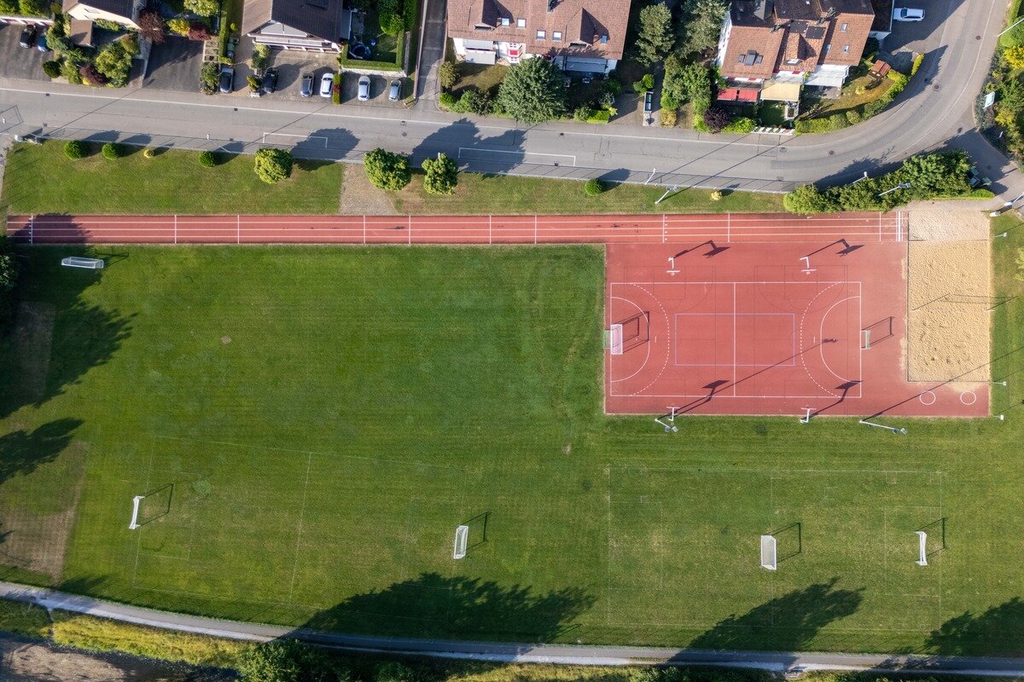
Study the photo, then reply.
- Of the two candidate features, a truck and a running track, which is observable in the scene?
running track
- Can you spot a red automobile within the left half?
No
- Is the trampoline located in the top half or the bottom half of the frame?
top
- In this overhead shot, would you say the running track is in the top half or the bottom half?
top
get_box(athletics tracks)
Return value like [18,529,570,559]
[7,211,908,245]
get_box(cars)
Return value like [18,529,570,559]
[20,25,39,52]
[301,71,315,99]
[358,76,371,102]
[389,79,402,103]
[264,67,280,96]
[894,7,924,23]
[36,31,52,55]
[321,72,335,99]
[219,66,234,94]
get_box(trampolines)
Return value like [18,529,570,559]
[351,42,371,62]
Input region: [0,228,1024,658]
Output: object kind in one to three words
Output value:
sports field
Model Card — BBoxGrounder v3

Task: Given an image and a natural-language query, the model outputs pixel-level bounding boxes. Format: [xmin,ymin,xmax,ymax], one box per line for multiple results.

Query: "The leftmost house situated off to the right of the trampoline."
[448,0,630,83]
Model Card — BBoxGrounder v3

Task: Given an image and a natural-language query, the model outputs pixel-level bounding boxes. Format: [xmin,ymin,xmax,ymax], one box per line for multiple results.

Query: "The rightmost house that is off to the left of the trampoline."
[241,0,356,55]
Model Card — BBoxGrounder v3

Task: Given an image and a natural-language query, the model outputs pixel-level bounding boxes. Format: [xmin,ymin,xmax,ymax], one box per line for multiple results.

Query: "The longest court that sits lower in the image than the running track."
[604,242,992,419]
